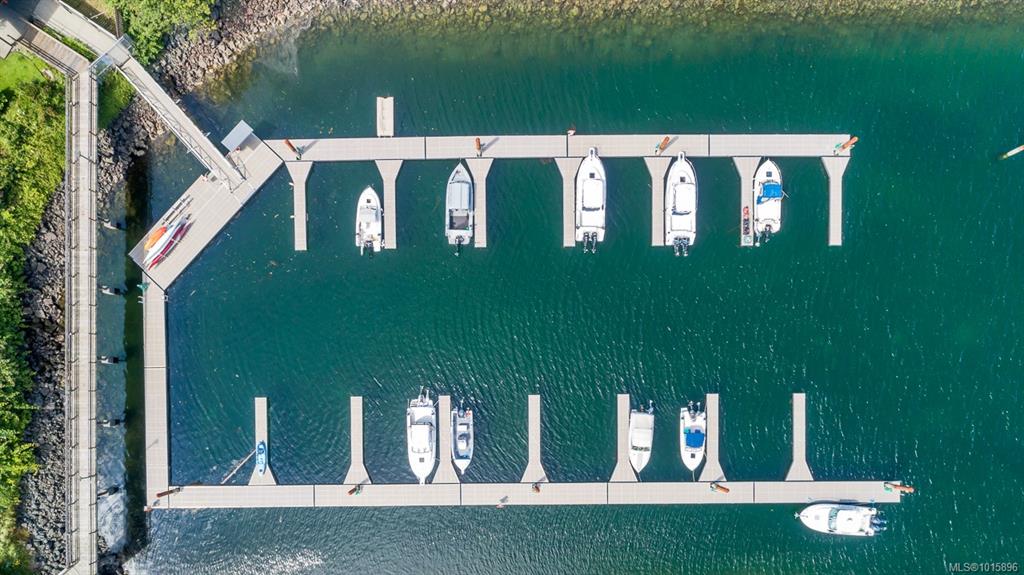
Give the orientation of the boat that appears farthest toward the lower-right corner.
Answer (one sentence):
The boat that appears farthest toward the lower-right corner runs horizontally in the image.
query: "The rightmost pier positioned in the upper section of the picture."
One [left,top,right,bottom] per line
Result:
[821,157,851,247]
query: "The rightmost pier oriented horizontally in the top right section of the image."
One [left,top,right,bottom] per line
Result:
[708,134,851,158]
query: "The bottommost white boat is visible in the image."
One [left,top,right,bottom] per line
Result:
[796,503,890,536]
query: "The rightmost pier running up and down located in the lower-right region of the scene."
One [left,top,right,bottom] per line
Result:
[783,393,813,481]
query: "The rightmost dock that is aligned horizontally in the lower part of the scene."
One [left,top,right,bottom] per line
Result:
[754,481,901,504]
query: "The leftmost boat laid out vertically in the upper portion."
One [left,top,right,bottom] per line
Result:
[357,186,382,260]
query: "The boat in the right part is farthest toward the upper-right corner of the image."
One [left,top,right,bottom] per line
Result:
[754,159,795,246]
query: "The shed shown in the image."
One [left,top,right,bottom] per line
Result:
[220,119,261,160]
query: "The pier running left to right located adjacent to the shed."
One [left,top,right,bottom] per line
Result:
[264,136,425,162]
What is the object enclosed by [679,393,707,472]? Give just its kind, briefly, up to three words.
boat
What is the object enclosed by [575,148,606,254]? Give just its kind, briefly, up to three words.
boat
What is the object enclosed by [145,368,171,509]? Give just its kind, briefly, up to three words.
pier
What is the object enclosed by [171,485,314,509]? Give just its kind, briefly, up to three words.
pier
